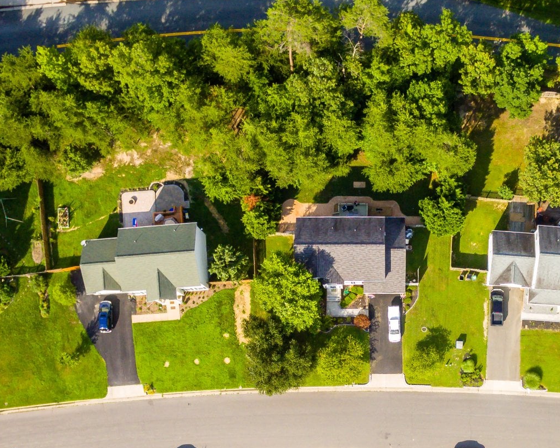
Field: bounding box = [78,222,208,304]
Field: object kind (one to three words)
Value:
house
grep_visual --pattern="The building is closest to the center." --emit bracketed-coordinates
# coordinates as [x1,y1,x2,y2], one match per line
[294,215,406,296]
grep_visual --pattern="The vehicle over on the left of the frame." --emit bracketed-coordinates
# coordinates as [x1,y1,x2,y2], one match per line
[94,300,112,333]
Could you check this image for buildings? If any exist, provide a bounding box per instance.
[294,215,406,296]
[78,222,208,304]
[487,225,560,307]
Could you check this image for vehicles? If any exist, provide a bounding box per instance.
[491,288,504,326]
[387,303,401,342]
[94,300,112,333]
